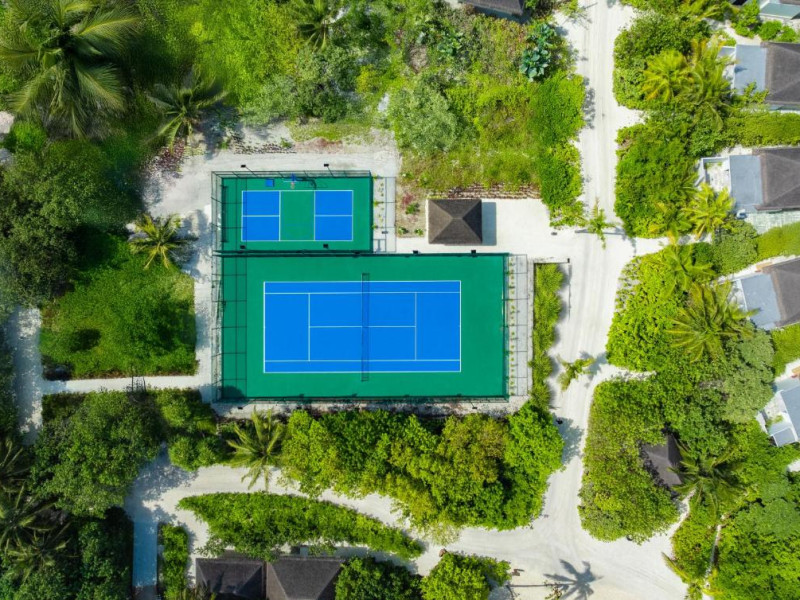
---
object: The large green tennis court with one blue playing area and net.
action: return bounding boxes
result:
[223,256,504,397]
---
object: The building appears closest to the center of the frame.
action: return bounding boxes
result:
[427,198,483,246]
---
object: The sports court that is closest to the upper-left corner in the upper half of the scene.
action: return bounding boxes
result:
[223,178,373,255]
